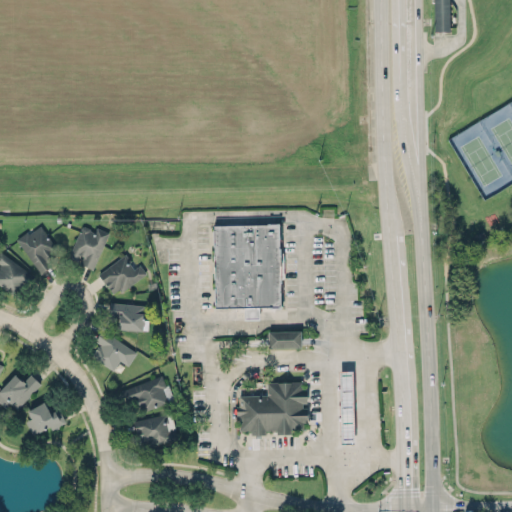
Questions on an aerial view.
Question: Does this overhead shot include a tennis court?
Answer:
Yes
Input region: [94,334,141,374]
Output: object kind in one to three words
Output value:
house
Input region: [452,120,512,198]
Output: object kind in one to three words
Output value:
tennis court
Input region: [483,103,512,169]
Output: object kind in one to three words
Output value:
tennis court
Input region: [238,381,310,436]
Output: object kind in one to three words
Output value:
building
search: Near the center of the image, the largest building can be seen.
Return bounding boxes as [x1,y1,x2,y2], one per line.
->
[214,222,284,308]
